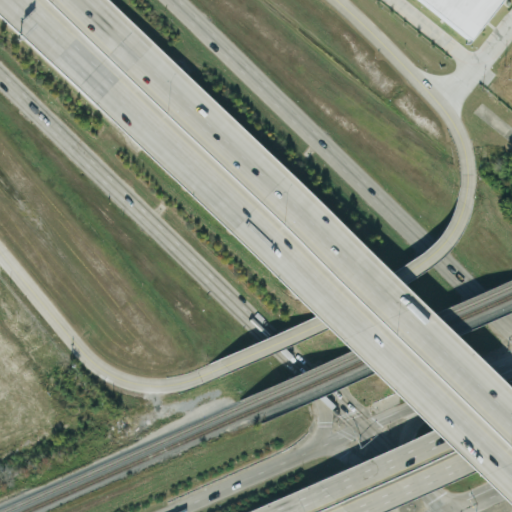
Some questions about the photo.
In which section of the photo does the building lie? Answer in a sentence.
The building is in the top right part of the image.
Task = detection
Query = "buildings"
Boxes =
[416,0,509,47]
